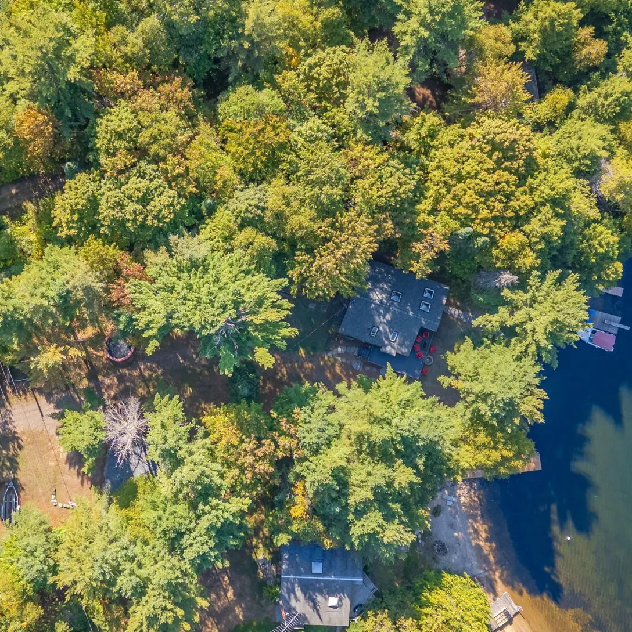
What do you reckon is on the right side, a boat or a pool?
boat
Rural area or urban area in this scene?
rural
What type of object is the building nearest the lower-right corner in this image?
residential house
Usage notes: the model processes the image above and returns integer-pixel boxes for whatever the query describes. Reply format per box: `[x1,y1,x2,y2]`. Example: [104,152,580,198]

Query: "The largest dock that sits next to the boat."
[576,306,622,333]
